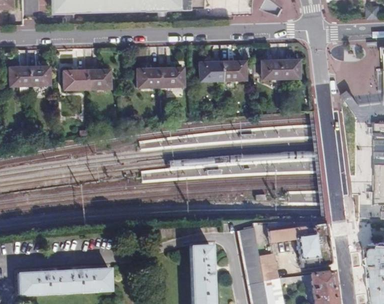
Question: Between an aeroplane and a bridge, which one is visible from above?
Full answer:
Visible in the photo is a bridge.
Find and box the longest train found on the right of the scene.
[170,152,315,167]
